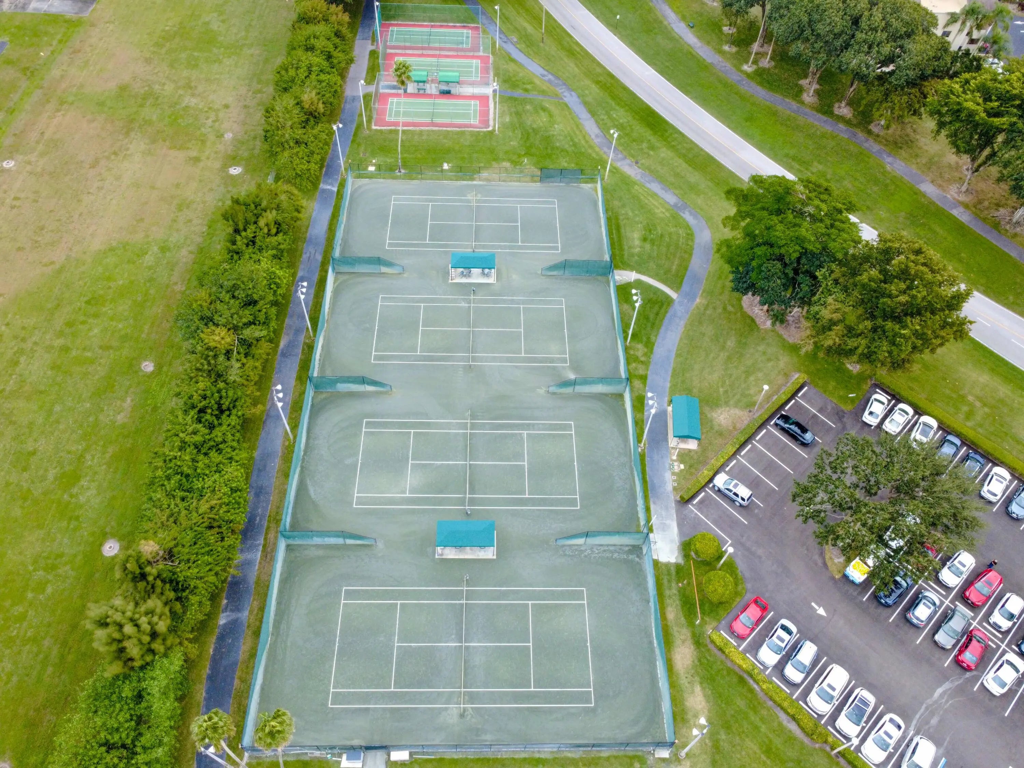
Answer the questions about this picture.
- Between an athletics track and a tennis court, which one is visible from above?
tennis court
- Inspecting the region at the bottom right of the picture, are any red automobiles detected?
Yes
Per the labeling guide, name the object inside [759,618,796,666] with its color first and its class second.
white car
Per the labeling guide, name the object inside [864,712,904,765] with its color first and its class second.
white car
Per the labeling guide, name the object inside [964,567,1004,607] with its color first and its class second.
red car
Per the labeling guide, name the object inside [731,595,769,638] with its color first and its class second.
red car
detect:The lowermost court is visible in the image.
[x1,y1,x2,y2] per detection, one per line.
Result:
[250,544,668,751]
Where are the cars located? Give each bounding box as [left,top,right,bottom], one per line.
[784,638,820,684]
[894,733,936,768]
[989,591,1024,631]
[1007,490,1024,521]
[958,450,986,482]
[713,475,753,508]
[936,433,963,465]
[759,618,796,666]
[979,466,1010,502]
[956,628,990,671]
[1013,625,1024,653]
[880,573,918,606]
[910,415,936,449]
[776,416,814,446]
[984,651,1023,696]
[836,686,876,738]
[864,712,904,765]
[845,545,880,584]
[964,567,1004,607]
[810,663,849,714]
[731,595,769,638]
[862,393,887,425]
[934,605,970,649]
[939,549,976,588]
[906,590,940,628]
[883,403,911,434]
